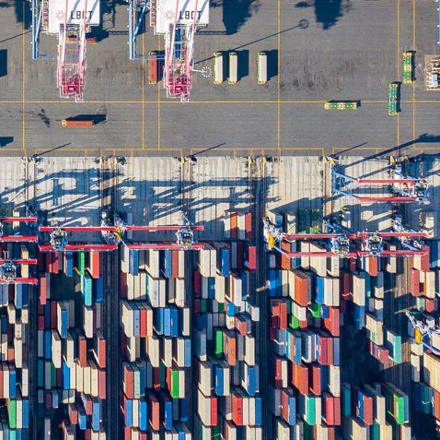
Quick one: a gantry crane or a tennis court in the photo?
gantry crane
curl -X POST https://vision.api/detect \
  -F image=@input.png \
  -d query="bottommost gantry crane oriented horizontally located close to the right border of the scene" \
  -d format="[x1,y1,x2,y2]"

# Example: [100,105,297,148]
[329,214,424,258]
